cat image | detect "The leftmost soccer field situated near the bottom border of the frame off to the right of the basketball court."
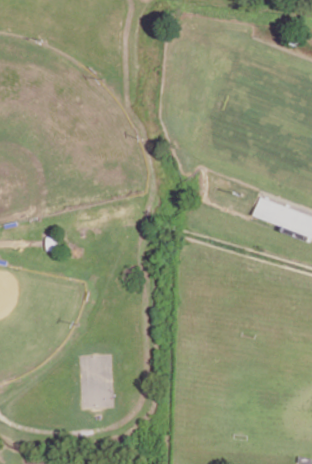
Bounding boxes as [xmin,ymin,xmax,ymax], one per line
[196,328,288,446]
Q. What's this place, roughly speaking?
sports ground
